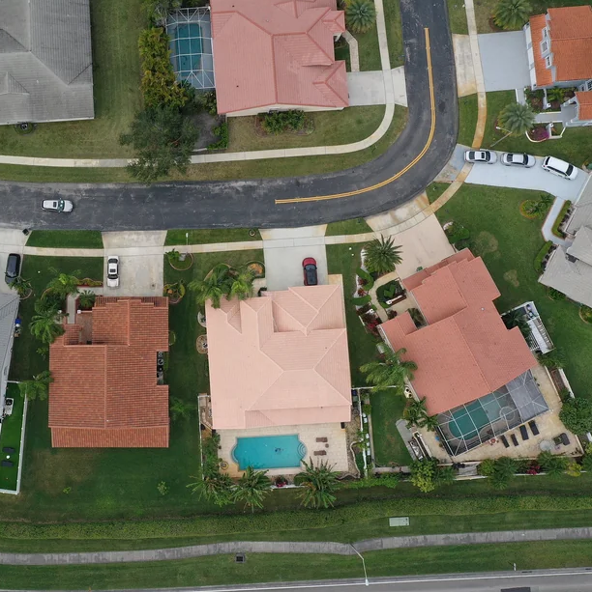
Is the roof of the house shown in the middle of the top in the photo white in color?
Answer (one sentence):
No, from above the roof of the house shown in the middle of the top looks pink.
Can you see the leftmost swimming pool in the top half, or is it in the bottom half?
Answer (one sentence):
Seen from above, the leftmost swimming pool lies in the top half of the view.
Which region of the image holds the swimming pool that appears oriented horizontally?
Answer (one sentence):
Look in the bottom portion of the view to spot the swimming pool that appears oriented horizontally.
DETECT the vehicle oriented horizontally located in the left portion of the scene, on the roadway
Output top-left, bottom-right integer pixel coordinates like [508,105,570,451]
[41,198,74,213]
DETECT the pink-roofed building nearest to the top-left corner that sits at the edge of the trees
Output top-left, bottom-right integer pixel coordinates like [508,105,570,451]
[211,0,349,115]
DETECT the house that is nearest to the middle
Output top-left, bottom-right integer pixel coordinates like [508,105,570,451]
[205,284,352,428]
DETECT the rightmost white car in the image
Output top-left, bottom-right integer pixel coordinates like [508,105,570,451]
[541,155,577,178]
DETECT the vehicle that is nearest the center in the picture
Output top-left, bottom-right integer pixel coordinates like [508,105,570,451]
[303,257,317,285]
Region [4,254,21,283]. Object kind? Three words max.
car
